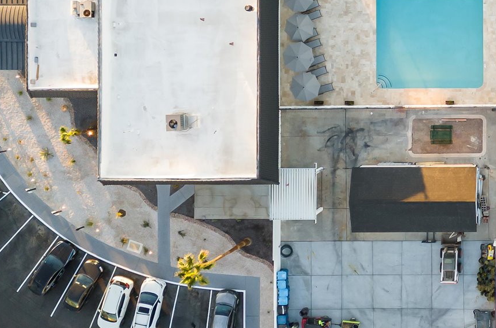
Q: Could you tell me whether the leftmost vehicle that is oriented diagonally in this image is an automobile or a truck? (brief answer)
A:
automobile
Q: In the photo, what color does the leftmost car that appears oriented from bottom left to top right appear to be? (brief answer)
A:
black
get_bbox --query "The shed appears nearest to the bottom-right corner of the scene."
[346,166,478,232]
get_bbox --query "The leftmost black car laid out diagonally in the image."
[27,239,78,297]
